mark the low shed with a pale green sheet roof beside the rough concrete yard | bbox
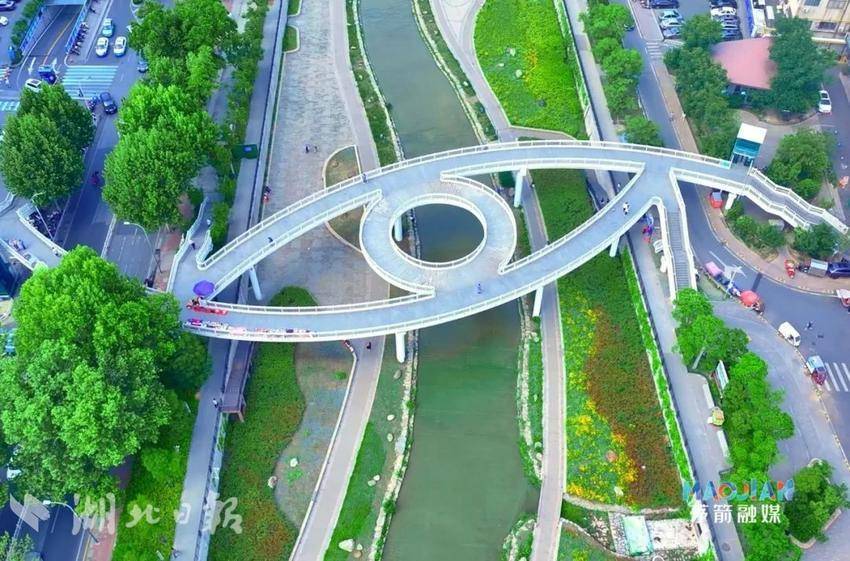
[623,515,652,553]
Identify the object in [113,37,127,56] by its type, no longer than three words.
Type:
car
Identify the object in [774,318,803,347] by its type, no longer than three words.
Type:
vehicle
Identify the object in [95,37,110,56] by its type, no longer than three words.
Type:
car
